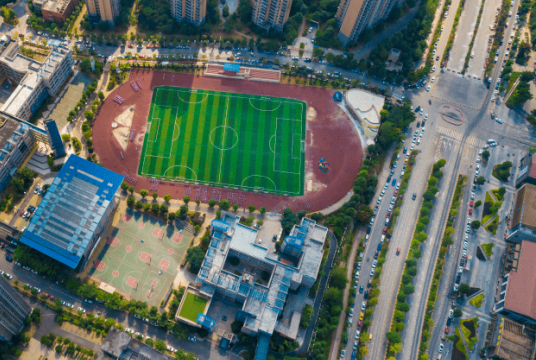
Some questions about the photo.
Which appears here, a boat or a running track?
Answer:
running track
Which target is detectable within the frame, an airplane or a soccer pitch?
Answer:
soccer pitch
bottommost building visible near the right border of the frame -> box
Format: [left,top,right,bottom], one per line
[485,316,536,360]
